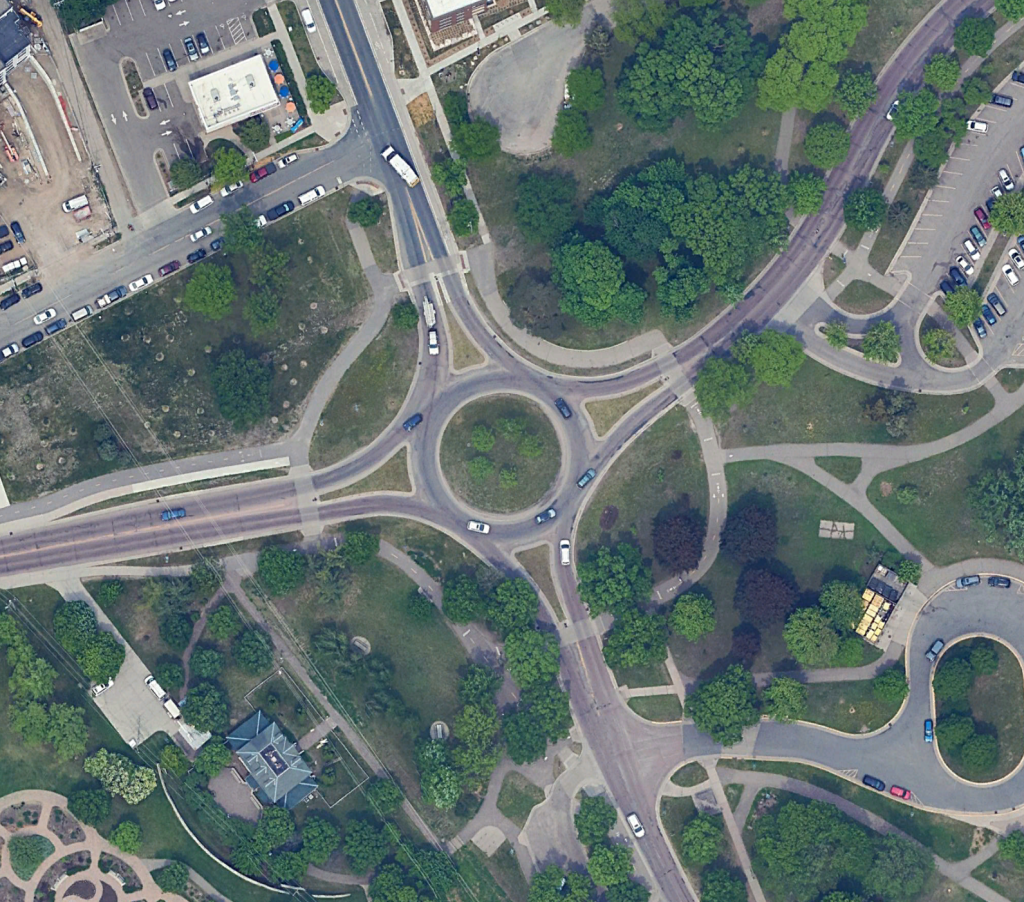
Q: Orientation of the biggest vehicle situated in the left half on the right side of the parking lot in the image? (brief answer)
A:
diagonally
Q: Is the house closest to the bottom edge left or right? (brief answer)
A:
left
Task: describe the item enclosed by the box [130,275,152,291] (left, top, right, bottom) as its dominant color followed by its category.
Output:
white car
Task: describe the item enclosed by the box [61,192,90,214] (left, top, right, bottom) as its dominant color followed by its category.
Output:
white truck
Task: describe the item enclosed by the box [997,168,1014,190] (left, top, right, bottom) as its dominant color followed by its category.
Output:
white car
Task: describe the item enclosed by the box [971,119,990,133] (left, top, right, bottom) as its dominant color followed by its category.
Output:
white vehicle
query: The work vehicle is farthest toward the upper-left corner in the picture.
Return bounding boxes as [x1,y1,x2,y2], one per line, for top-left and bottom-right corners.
[18,7,47,33]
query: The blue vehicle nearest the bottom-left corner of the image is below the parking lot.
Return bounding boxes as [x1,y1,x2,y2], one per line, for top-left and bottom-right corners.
[163,508,185,520]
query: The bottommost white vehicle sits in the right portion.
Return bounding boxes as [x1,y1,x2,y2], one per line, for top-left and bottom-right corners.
[627,814,643,836]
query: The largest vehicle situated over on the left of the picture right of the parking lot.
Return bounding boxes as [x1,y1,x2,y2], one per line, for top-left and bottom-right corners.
[378,146,422,190]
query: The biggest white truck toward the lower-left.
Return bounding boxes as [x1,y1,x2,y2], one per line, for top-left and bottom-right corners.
[145,675,169,703]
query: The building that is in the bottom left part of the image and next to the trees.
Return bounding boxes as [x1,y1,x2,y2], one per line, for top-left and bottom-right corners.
[226,710,318,809]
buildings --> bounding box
[0,6,29,75]
[226,710,318,809]
[419,0,499,31]
[190,53,280,134]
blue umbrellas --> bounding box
[269,60,278,70]
[279,87,289,96]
